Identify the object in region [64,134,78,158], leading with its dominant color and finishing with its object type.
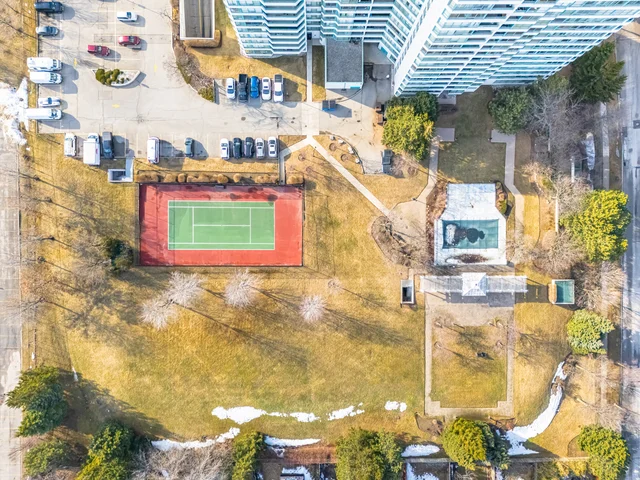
white vehicle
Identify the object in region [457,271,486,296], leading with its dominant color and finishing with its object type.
white gazebo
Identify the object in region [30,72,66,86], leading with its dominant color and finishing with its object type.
white vehicle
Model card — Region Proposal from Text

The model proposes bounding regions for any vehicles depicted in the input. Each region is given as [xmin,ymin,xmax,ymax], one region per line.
[34,1,65,15]
[101,132,114,160]
[148,138,160,164]
[87,45,112,56]
[255,138,265,159]
[261,78,271,101]
[249,76,260,99]
[226,78,236,99]
[220,138,230,161]
[184,138,194,157]
[268,137,277,158]
[238,74,249,102]
[82,134,99,166]
[27,59,66,73]
[232,138,243,159]
[37,26,60,37]
[26,108,66,121]
[30,72,66,86]
[272,74,284,102]
[118,36,141,47]
[244,138,254,159]
[64,134,78,158]
[39,96,62,107]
